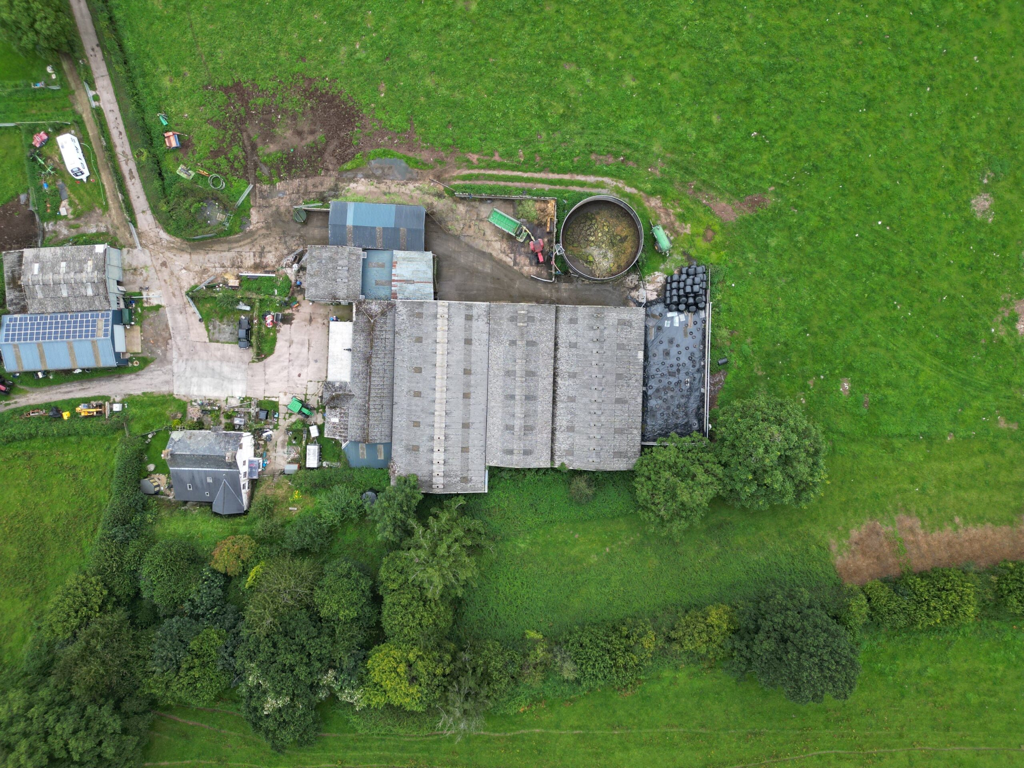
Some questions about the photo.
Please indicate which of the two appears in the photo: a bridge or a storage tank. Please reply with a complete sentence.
I can see a storage tank in this picture.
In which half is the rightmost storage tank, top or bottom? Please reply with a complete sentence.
It is in the top half that the rightmost storage tank appears.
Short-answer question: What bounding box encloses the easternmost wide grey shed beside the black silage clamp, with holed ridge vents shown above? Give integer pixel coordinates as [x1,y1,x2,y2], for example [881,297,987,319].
[550,305,645,470]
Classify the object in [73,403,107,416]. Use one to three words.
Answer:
vehicle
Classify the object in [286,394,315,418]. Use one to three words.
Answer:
work vehicle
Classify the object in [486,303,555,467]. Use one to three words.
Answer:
shed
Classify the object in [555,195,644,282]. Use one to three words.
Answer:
storage tank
